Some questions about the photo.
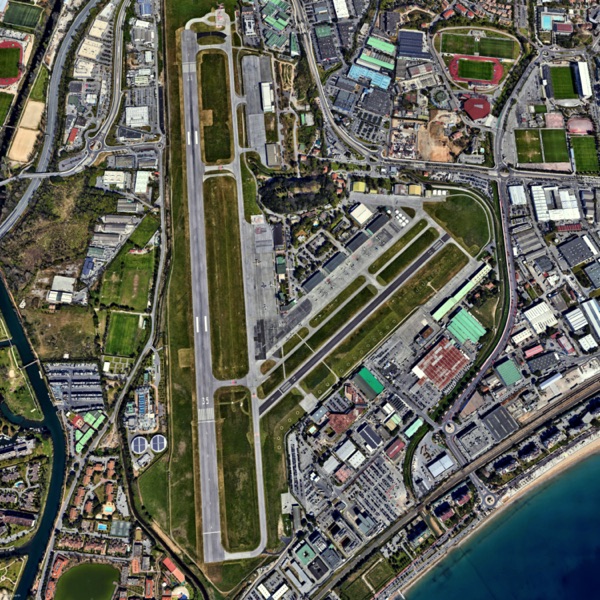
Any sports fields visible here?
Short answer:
Yes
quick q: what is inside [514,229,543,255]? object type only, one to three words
building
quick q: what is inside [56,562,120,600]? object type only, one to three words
pond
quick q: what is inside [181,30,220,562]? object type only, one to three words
runway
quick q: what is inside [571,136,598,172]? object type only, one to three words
soccer field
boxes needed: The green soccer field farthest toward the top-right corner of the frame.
[550,66,578,99]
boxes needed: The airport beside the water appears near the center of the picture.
[140,0,494,593]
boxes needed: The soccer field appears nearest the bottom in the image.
[106,312,139,356]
